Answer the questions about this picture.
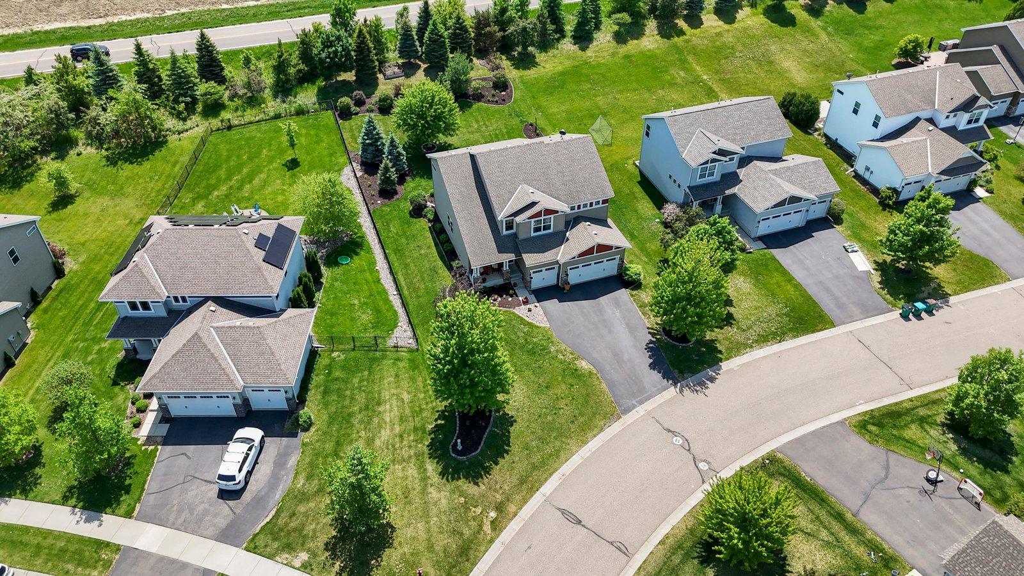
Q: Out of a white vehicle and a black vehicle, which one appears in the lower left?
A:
white vehicle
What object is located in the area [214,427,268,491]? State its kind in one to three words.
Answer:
car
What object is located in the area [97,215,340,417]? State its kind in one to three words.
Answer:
house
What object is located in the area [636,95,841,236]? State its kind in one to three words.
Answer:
house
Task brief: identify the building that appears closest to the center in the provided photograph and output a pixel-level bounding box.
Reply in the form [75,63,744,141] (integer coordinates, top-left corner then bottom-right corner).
[428,125,633,294]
